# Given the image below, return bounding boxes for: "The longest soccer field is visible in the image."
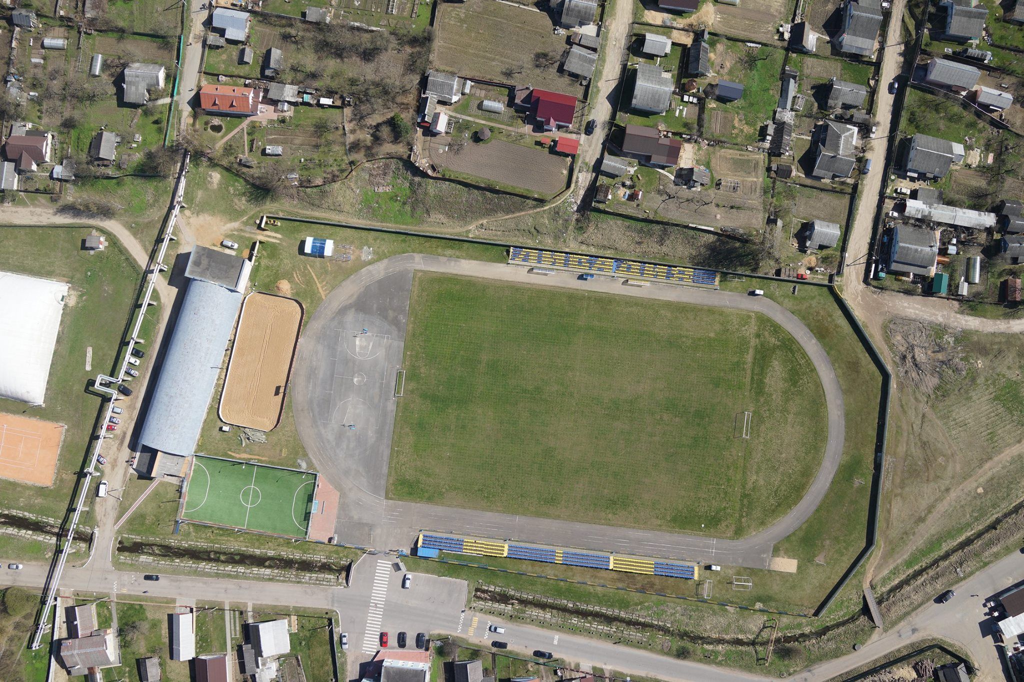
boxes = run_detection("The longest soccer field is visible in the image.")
[385,271,827,539]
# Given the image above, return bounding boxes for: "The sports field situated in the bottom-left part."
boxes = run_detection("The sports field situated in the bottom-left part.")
[176,456,318,540]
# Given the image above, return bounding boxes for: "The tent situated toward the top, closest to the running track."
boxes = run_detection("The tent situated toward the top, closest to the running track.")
[304,237,336,257]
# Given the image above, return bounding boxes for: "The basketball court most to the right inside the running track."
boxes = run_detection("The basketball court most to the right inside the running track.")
[317,271,414,498]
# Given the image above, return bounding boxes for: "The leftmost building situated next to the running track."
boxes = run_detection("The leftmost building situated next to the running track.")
[132,244,258,478]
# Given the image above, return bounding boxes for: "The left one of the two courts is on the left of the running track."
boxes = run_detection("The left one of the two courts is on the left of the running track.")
[0,412,68,489]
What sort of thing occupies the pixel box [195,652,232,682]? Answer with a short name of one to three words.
house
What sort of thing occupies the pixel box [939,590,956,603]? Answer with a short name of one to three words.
vehicle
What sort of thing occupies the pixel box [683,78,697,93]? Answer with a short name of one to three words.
gazebo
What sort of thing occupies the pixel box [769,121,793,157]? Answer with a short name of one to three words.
shed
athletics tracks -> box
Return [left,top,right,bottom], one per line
[292,254,845,569]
